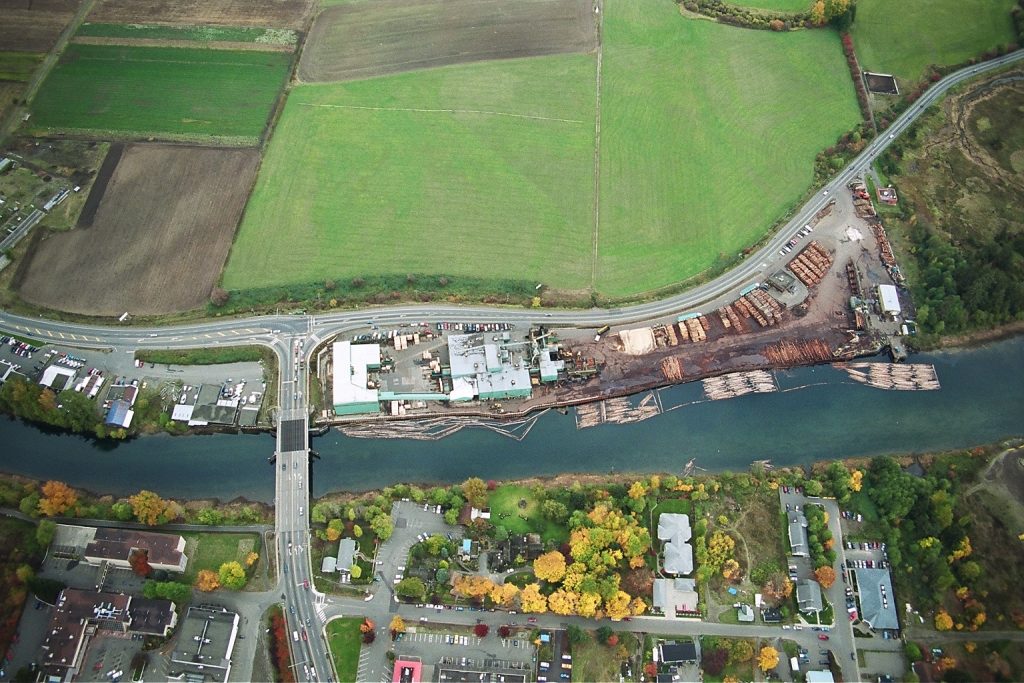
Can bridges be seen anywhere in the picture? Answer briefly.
Yes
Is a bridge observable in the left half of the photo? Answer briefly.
Yes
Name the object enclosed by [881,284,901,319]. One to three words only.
building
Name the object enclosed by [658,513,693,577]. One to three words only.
house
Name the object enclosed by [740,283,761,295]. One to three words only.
vehicle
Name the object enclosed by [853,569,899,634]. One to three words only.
building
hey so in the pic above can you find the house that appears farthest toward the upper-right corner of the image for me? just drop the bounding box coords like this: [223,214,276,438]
[877,187,896,207]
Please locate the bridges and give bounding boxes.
[268,406,330,531]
